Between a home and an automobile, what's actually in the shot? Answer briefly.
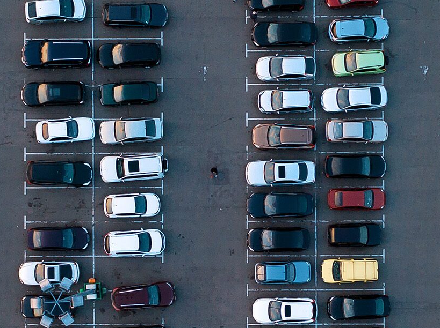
automobile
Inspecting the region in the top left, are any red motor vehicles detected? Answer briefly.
No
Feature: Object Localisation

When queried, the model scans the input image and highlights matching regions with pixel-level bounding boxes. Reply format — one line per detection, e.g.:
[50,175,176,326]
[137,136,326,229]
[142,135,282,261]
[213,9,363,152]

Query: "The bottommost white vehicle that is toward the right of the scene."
[252,296,318,326]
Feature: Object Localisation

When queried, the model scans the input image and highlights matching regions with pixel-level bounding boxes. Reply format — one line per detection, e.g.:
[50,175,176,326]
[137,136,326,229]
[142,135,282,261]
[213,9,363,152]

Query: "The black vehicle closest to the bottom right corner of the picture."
[327,293,391,322]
